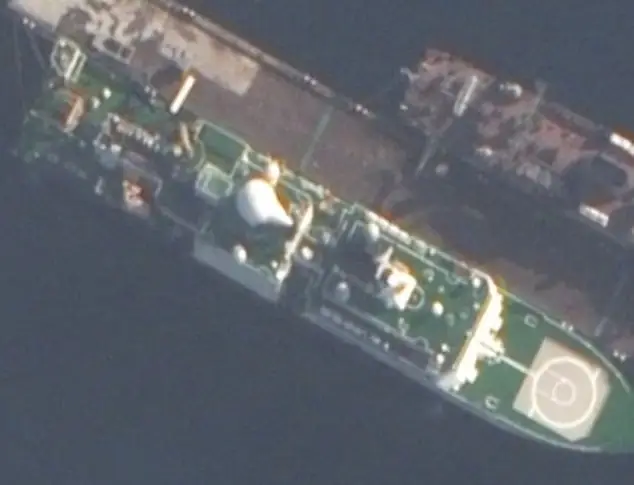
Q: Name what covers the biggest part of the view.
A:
water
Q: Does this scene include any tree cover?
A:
No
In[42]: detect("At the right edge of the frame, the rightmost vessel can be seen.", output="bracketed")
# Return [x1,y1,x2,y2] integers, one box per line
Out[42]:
[400,47,634,251]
